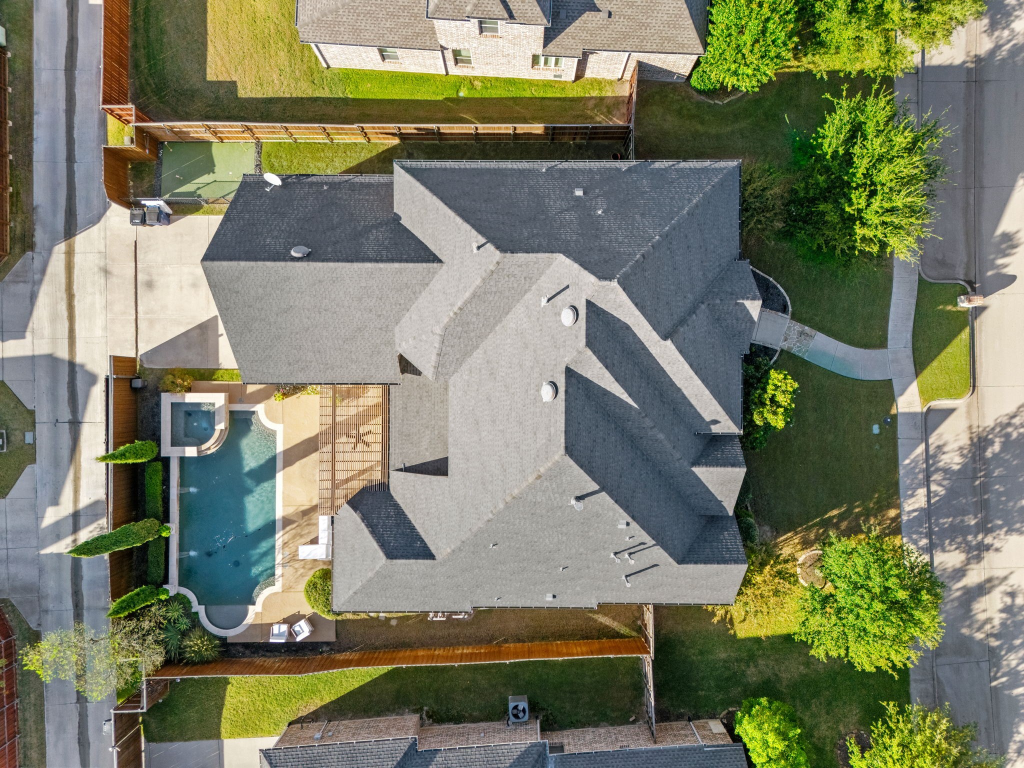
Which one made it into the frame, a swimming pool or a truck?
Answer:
swimming pool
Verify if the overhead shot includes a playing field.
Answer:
No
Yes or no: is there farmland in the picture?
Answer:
No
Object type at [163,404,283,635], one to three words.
swimming pool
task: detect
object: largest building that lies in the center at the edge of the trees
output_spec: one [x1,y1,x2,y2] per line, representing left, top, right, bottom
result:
[200,157,761,619]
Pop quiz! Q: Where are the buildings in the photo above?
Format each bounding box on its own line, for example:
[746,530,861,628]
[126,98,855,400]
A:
[255,715,745,768]
[293,0,712,89]
[200,157,761,619]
